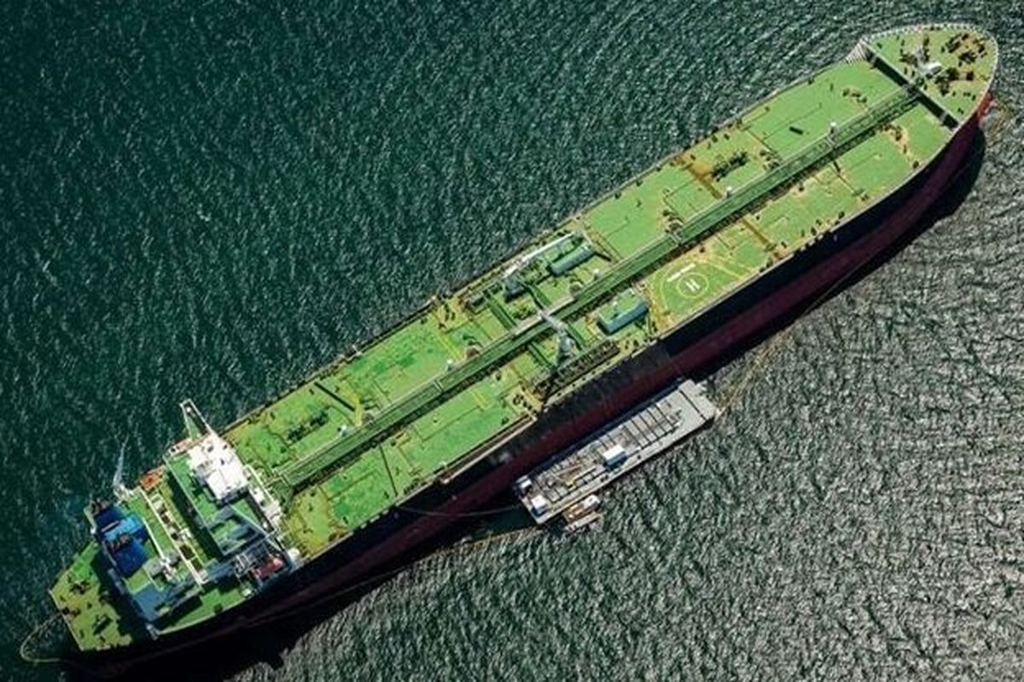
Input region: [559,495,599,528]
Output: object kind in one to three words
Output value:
boat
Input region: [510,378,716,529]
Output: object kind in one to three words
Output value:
ship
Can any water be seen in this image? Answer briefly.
Yes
